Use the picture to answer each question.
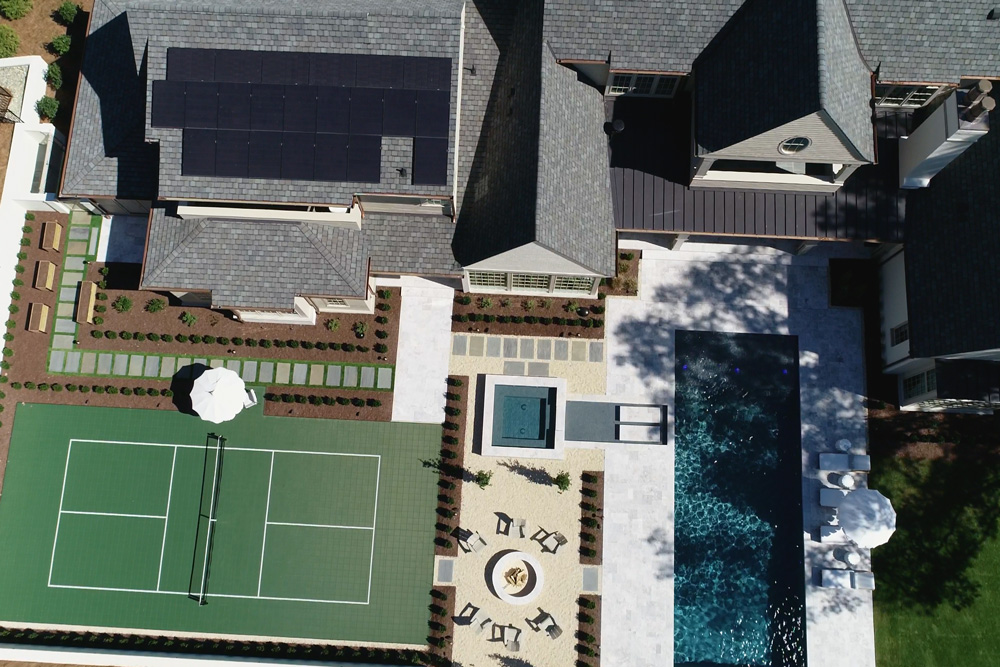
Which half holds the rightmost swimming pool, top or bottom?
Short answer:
bottom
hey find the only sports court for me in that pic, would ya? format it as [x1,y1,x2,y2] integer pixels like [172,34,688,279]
[0,386,443,643]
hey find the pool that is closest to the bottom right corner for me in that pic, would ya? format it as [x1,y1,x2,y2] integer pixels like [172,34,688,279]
[674,330,807,667]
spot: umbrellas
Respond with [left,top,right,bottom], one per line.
[192,367,250,424]
[835,488,897,551]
